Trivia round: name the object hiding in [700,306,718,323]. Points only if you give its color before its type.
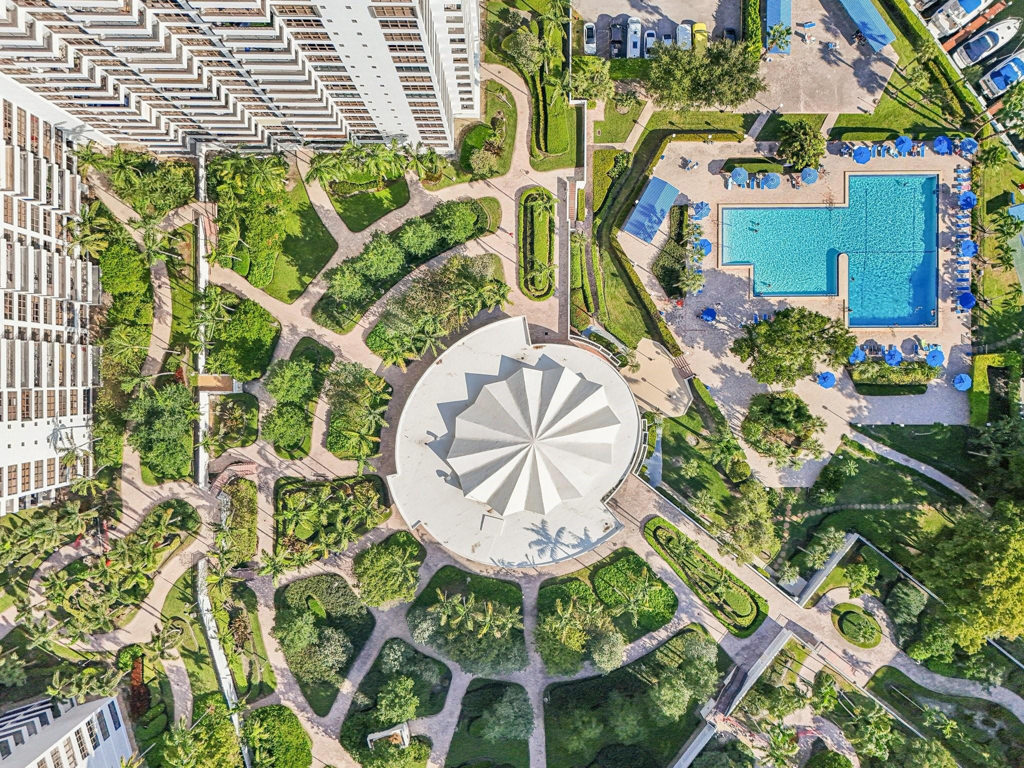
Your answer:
blue umbrella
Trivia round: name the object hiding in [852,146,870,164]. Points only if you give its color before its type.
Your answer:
blue umbrella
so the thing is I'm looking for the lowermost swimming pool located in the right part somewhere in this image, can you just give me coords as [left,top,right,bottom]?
[712,169,949,334]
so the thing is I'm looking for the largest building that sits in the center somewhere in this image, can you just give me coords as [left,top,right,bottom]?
[387,316,640,568]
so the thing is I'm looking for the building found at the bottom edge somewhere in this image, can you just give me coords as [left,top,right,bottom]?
[0,696,137,768]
